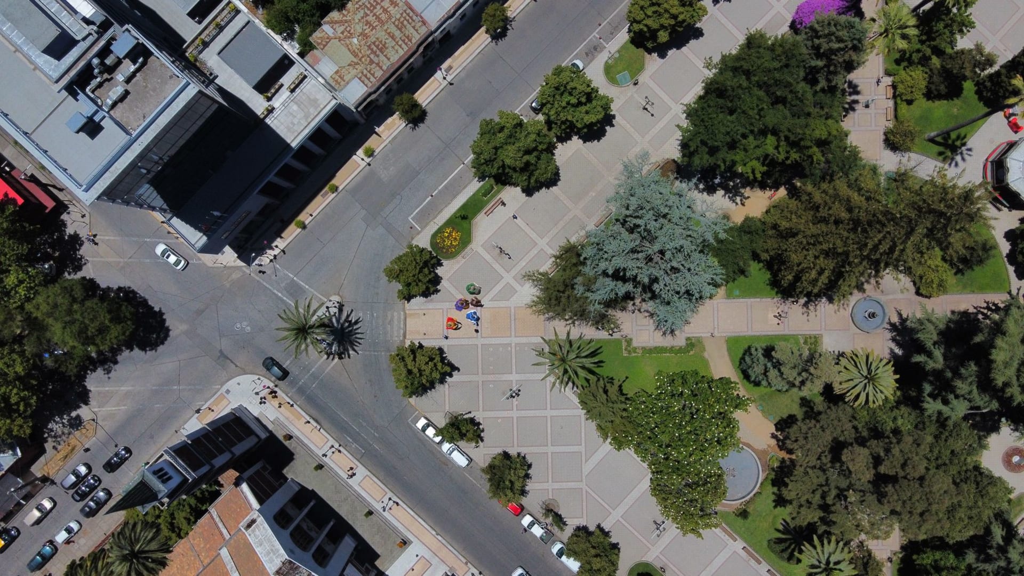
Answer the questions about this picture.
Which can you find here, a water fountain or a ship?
water fountain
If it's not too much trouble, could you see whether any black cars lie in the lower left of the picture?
Yes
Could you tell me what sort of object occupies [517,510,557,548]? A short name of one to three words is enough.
truck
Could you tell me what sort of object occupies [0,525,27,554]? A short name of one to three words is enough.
car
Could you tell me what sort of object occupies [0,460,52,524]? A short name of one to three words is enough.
building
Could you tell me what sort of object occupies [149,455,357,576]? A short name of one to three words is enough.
church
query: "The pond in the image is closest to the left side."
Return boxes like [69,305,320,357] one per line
[701,445,762,506]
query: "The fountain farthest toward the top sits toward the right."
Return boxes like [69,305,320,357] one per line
[850,297,889,333]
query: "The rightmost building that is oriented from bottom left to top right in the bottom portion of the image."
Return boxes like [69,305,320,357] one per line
[98,404,270,513]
